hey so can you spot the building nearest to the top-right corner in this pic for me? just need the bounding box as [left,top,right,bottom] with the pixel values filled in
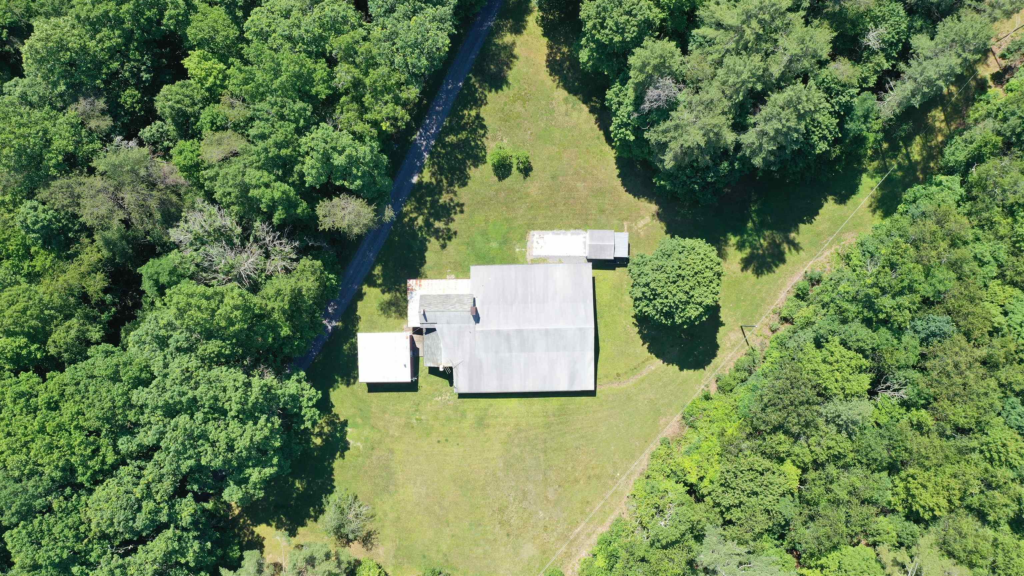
[586,230,628,260]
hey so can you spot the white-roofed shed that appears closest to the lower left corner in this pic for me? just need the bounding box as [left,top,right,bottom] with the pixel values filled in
[357,332,416,383]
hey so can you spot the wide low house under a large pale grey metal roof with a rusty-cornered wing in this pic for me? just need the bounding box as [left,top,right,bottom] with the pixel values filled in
[407,262,594,393]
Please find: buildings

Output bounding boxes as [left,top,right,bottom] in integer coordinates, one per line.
[586,230,628,260]
[357,332,416,383]
[407,262,594,393]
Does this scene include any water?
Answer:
No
